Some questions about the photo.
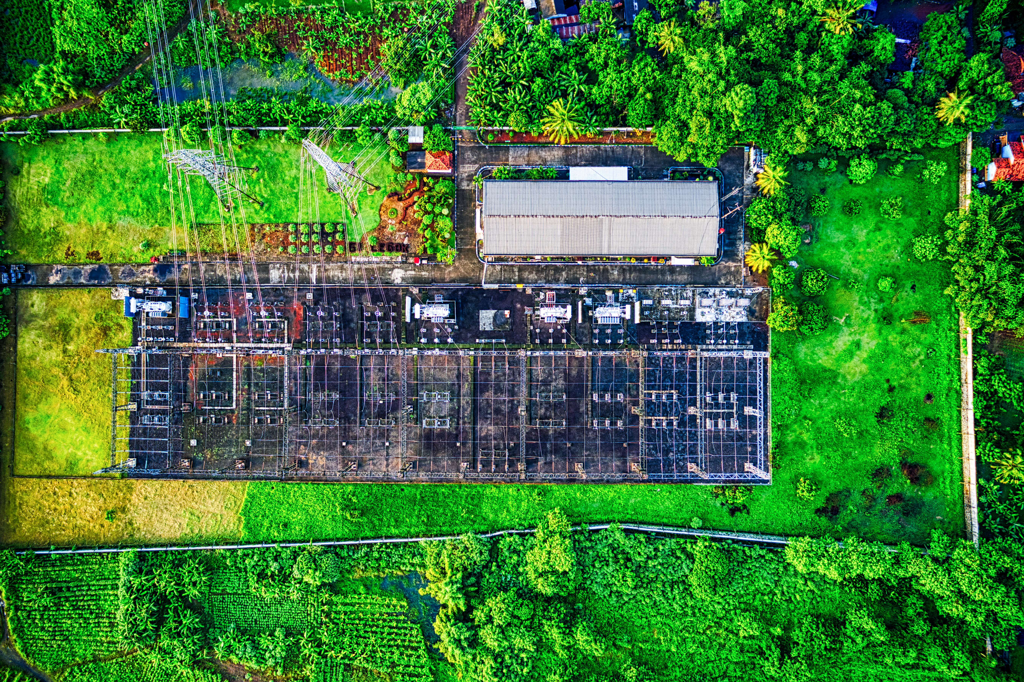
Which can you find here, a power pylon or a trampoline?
power pylon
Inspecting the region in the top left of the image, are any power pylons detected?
Yes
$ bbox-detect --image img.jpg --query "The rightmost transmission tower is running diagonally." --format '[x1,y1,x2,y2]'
[302,140,381,218]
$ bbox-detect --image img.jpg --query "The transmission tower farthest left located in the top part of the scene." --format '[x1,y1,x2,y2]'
[161,150,264,212]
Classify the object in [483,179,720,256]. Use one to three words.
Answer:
building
